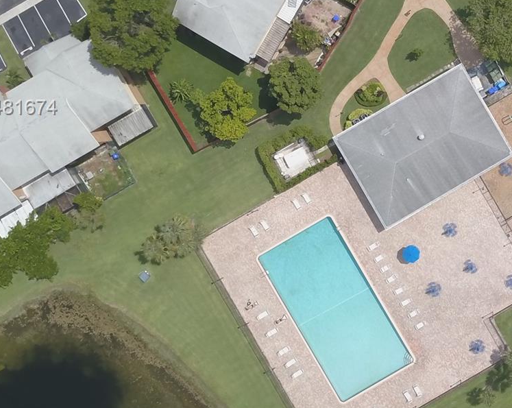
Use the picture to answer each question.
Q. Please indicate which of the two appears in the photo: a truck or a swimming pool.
swimming pool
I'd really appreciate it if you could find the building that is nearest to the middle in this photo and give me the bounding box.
[286,147,314,171]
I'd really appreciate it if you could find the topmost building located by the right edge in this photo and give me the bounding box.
[334,67,512,230]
